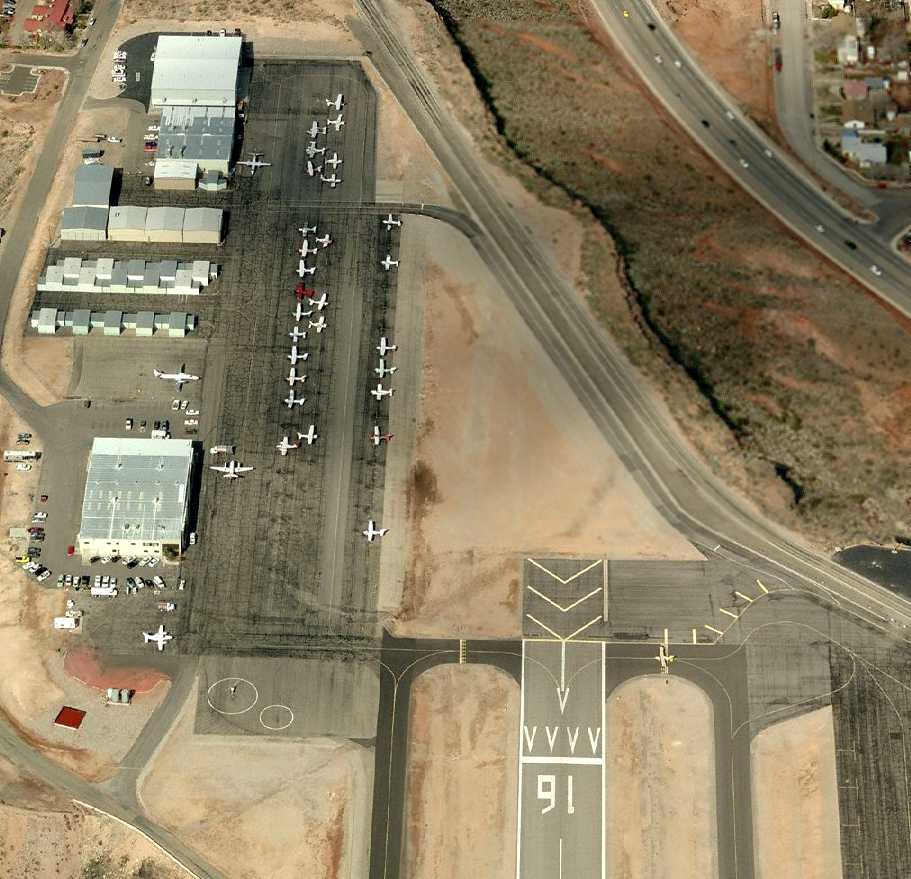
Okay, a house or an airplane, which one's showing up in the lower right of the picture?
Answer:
airplane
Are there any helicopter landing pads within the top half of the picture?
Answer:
No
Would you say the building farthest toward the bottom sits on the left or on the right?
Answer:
left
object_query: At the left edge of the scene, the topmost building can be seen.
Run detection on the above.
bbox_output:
[20,0,79,40]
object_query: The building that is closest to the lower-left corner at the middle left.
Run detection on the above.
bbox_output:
[79,437,193,566]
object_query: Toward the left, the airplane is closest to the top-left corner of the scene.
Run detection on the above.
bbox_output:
[238,148,270,170]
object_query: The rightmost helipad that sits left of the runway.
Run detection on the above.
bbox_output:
[260,705,294,730]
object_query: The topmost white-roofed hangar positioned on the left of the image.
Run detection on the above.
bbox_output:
[150,35,243,126]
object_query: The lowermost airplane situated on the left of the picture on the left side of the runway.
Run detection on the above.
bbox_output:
[138,623,170,651]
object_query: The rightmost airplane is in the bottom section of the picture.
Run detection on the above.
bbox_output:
[654,644,676,671]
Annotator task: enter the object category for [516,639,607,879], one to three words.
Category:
runway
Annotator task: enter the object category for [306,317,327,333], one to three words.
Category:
airplane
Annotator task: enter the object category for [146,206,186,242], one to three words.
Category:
hangar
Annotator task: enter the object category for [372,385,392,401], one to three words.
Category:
airplane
